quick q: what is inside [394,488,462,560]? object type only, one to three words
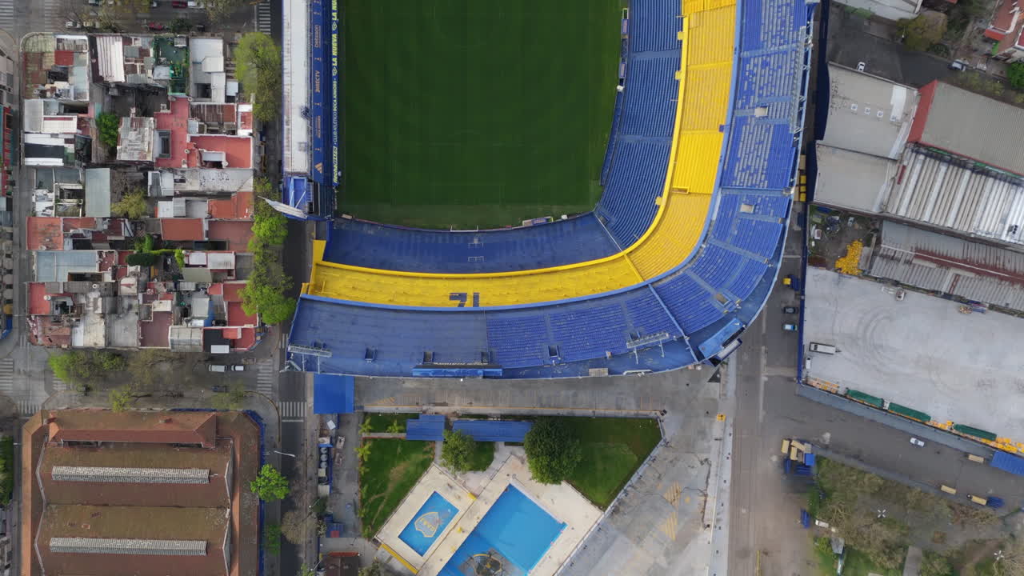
swimming pool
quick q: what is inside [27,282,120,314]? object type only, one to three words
house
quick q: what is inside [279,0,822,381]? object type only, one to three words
stadium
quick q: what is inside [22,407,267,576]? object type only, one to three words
building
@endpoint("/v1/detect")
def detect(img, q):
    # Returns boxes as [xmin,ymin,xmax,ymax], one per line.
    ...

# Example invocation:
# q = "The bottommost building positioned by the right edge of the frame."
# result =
[863,220,1024,317]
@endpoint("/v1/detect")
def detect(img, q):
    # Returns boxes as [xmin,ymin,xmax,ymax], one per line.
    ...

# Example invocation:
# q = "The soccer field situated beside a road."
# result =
[335,0,628,230]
